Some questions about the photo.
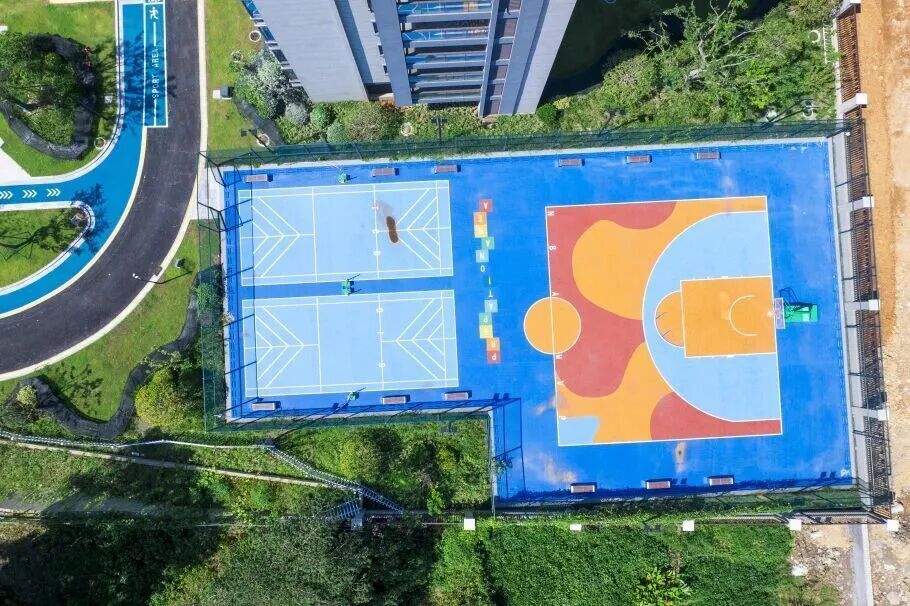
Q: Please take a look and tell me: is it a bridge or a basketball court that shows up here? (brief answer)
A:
basketball court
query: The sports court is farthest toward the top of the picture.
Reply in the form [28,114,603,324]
[239,180,453,285]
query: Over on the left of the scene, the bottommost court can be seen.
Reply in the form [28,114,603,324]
[243,291,459,396]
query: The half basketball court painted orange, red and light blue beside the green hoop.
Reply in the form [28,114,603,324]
[523,195,783,446]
